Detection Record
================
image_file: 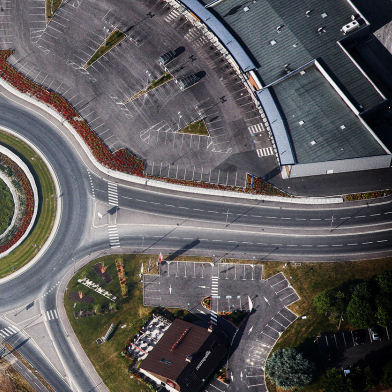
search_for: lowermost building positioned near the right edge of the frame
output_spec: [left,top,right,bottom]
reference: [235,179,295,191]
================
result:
[256,62,392,177]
